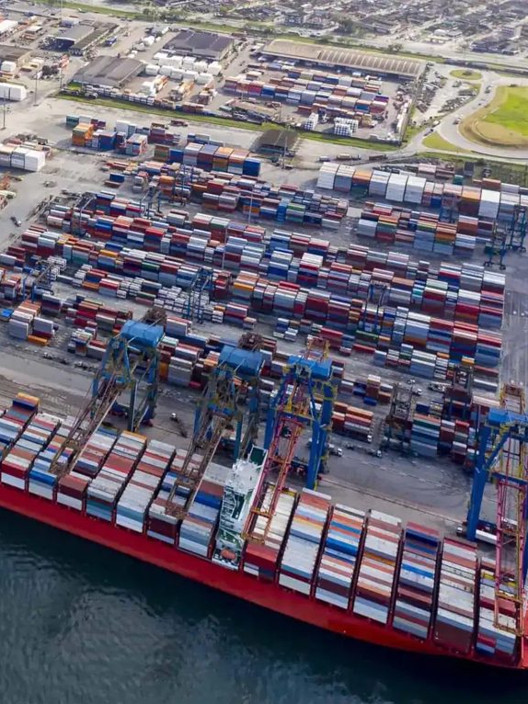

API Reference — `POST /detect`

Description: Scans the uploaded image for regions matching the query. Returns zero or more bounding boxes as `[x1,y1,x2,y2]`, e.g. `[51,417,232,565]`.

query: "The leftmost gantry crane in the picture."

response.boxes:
[22,248,55,294]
